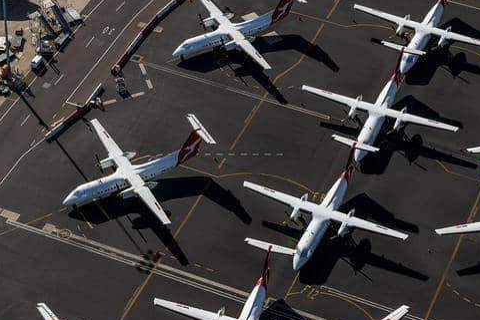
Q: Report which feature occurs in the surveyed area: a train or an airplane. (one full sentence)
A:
There is an airplane in the scene.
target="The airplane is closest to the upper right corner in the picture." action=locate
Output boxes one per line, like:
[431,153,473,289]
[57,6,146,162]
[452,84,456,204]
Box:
[354,0,480,72]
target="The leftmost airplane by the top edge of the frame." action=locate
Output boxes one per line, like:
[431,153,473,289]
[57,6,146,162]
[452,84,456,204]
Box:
[172,0,305,67]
